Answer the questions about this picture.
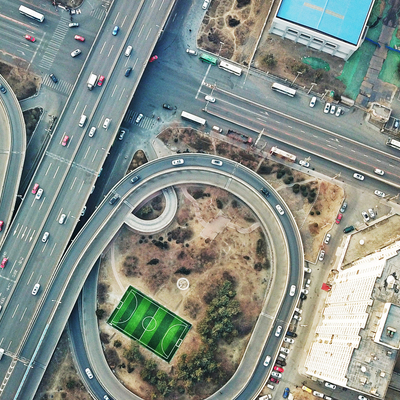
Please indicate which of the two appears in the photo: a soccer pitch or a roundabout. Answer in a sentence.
I can see a soccer pitch in this picture.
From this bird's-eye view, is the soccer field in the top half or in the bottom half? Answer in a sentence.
The soccer field is in the bottom half of the image.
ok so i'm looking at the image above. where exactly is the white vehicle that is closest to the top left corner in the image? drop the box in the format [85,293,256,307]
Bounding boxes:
[18,5,46,24]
